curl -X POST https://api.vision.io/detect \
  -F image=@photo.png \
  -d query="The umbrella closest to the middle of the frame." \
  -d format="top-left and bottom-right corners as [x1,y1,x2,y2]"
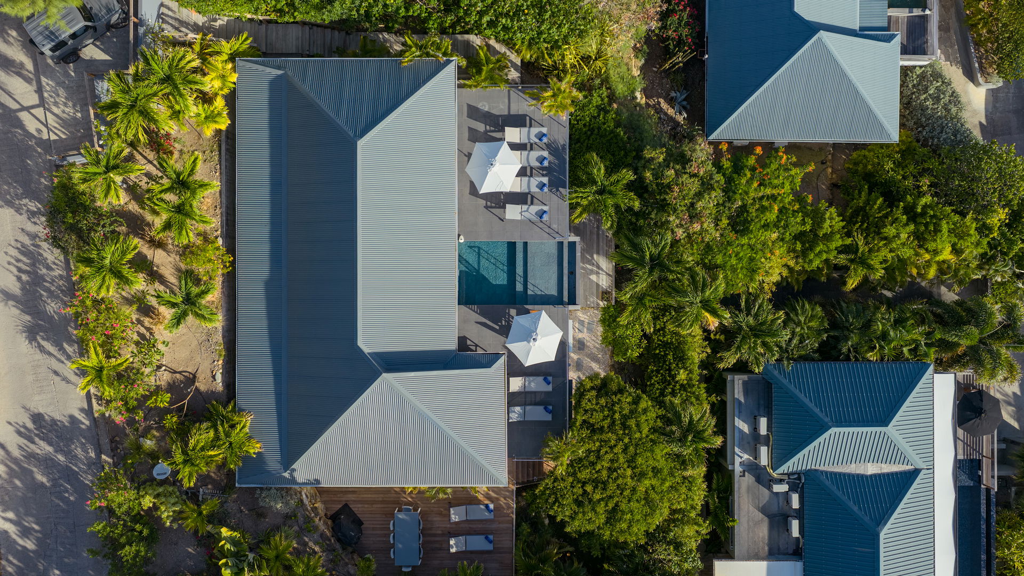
[506,310,563,366]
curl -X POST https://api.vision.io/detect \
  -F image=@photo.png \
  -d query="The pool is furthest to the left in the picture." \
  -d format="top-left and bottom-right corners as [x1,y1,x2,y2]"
[458,238,580,310]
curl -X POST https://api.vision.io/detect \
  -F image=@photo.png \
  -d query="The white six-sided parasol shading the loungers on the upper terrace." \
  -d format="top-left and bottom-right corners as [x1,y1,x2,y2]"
[466,141,522,194]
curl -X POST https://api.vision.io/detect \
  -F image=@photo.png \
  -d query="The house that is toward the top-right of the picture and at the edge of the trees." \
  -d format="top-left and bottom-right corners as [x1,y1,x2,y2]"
[702,0,901,144]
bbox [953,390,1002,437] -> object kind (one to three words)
umbrella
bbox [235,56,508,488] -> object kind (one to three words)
house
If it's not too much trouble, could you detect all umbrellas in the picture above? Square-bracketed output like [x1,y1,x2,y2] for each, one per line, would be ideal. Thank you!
[953,390,1002,437]
[466,141,522,194]
[506,310,563,366]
